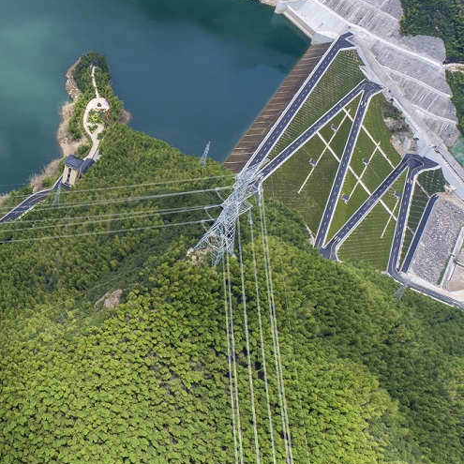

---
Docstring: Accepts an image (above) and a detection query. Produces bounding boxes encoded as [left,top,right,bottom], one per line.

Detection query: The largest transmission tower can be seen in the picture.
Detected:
[194,165,259,265]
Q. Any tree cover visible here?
Yes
